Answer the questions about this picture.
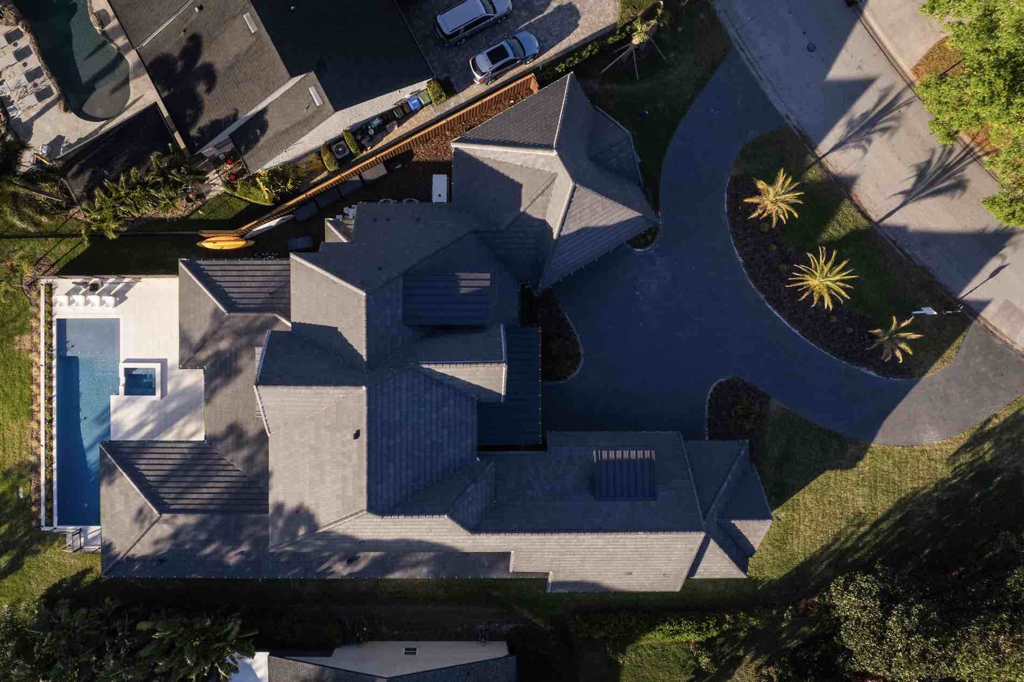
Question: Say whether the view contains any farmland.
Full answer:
No, farmland can't be seen anywhere here.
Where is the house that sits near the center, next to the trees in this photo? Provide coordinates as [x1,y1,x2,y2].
[97,71,774,593]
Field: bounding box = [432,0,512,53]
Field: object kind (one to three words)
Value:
car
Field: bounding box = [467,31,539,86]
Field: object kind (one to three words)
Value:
car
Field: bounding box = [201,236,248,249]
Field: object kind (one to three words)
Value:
boat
